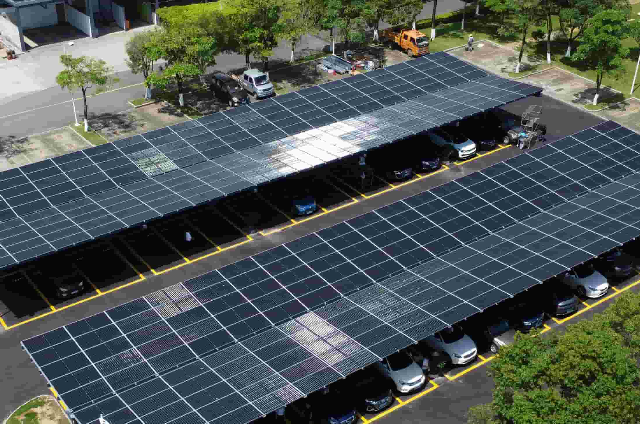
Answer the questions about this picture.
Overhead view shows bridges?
No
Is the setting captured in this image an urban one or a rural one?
urban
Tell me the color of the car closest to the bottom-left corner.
black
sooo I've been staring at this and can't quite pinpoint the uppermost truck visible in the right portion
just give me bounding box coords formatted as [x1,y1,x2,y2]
[379,25,431,56]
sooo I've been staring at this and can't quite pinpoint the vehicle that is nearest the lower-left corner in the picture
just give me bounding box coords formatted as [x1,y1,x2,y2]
[31,252,84,298]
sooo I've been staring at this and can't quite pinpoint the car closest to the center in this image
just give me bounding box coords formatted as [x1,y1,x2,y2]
[268,176,318,216]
